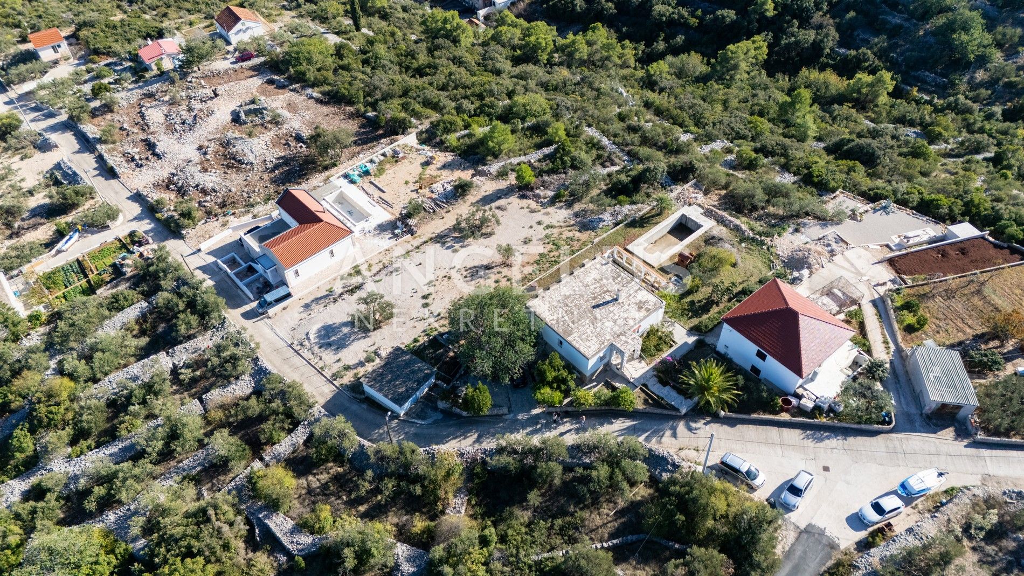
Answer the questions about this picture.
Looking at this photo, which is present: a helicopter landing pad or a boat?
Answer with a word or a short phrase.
boat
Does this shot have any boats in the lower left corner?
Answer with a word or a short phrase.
No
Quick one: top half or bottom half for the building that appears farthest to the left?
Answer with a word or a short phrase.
top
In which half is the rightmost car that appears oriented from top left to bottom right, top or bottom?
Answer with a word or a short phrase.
bottom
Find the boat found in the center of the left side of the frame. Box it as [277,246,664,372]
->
[49,226,83,254]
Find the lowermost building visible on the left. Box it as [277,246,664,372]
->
[362,348,436,418]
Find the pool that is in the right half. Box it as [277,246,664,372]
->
[625,206,717,269]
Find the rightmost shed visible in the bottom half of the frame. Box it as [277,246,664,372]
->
[898,334,980,419]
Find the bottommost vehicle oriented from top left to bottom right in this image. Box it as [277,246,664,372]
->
[719,451,766,489]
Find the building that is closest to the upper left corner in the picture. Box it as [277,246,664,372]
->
[25,27,77,63]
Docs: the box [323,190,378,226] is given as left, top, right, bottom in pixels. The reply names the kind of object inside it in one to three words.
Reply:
swimming pool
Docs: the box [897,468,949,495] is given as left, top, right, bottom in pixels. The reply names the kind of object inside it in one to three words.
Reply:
boat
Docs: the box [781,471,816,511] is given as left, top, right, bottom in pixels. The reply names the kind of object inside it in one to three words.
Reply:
car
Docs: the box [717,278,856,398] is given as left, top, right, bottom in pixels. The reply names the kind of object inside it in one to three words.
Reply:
house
